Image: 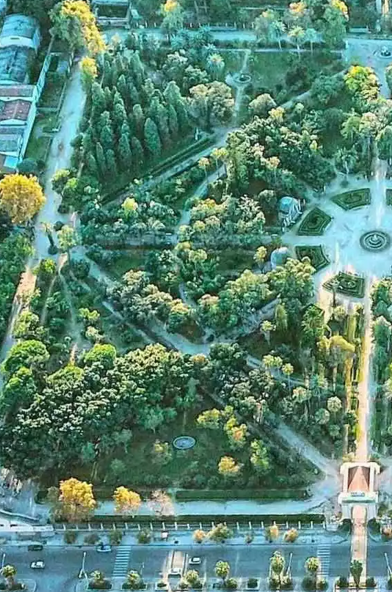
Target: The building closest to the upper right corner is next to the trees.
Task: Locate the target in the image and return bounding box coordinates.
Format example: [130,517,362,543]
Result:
[282,200,307,228]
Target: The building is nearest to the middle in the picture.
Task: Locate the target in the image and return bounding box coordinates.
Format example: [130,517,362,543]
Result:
[271,246,296,271]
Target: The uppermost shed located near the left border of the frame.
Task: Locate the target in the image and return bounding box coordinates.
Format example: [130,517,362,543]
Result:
[0,10,42,50]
